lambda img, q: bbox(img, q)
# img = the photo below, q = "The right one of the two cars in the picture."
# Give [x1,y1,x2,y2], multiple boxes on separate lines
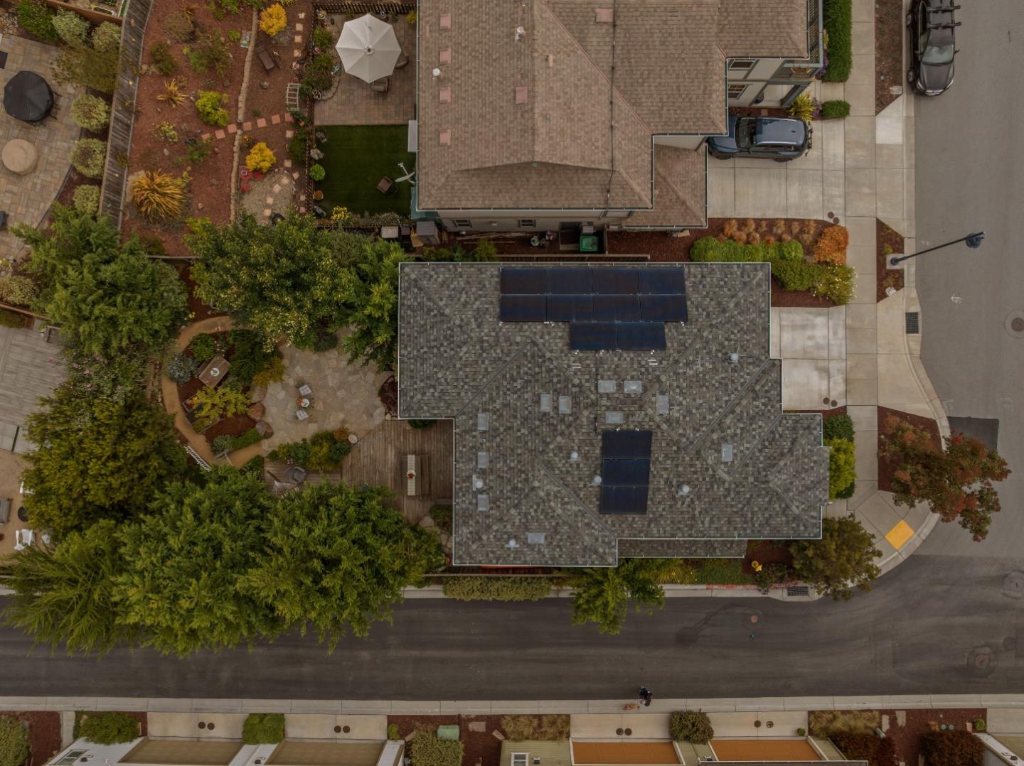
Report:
[906,0,970,99]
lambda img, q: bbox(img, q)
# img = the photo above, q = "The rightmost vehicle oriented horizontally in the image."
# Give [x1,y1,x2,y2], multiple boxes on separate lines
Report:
[708,107,825,160]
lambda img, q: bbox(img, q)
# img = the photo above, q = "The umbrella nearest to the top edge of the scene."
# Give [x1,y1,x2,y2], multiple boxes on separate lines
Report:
[338,20,402,85]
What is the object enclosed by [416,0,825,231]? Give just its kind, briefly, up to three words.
house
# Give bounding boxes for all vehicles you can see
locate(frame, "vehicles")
[708,107,825,160]
[906,0,970,99]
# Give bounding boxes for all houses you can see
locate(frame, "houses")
[46,737,404,766]
[975,734,1024,766]
[399,262,830,568]
[416,0,825,231]
[500,740,869,766]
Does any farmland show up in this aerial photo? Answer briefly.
No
